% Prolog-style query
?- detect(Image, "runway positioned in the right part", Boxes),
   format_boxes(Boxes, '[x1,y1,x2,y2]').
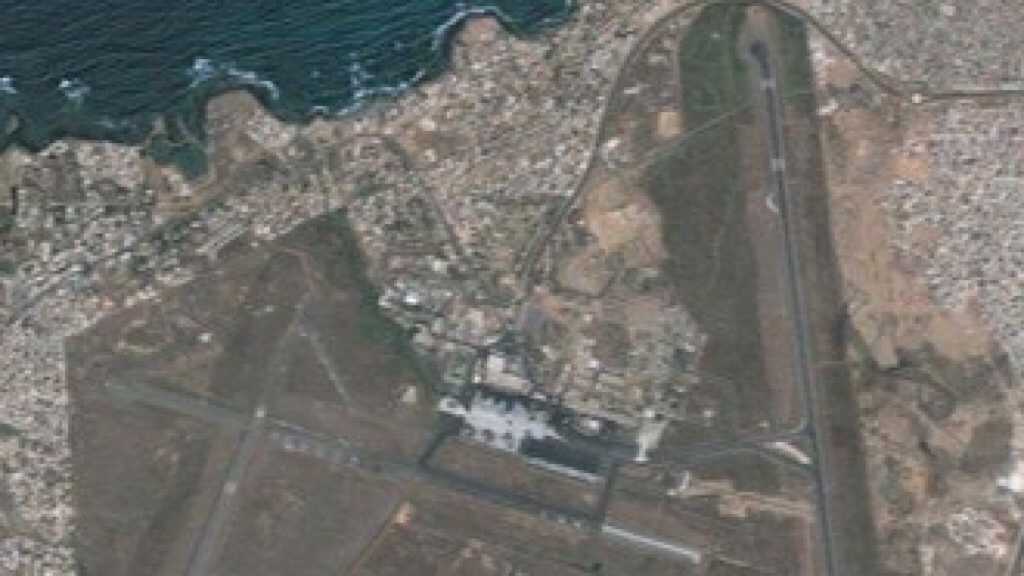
[750,40,840,576]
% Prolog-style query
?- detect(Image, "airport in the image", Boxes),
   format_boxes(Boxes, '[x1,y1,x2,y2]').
[106,40,840,576]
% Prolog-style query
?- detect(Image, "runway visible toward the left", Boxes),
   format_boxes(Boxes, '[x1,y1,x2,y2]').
[181,315,306,576]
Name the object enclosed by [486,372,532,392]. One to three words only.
building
